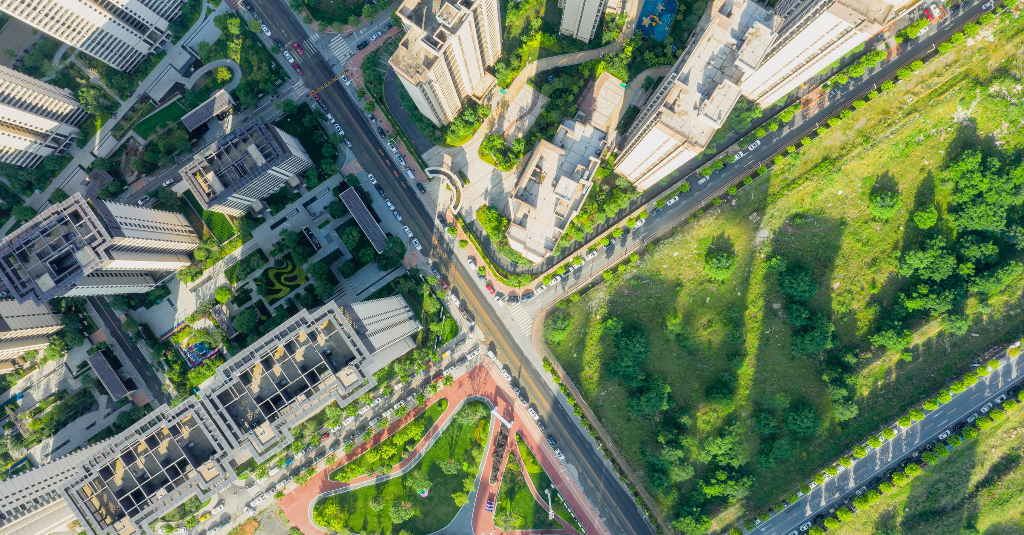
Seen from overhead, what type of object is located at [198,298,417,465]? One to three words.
building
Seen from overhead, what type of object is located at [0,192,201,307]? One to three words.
building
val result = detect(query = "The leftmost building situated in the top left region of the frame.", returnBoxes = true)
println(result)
[0,48,87,151]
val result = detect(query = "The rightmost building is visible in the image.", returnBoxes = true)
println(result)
[739,0,905,103]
